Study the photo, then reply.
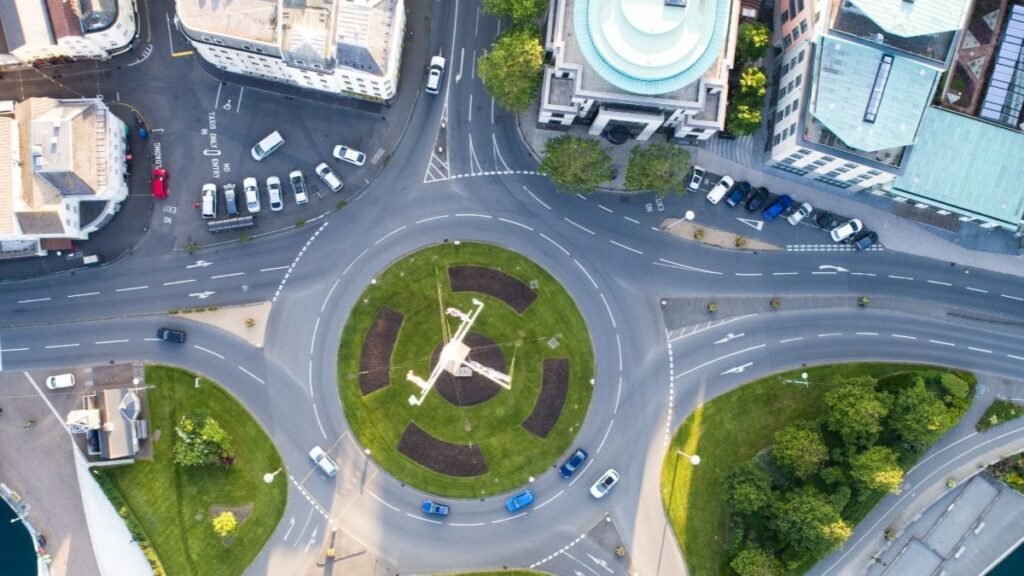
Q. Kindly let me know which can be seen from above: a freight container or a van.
van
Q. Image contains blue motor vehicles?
Yes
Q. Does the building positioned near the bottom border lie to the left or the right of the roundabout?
on the right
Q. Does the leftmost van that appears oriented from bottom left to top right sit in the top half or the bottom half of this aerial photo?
top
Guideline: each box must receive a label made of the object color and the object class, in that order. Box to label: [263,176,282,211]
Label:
white car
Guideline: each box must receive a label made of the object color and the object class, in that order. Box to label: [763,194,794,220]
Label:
blue car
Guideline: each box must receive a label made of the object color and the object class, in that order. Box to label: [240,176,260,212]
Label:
white car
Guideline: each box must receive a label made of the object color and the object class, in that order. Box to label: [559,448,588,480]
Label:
blue car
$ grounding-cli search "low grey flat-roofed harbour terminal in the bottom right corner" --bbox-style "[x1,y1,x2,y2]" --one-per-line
[831,464,1024,576]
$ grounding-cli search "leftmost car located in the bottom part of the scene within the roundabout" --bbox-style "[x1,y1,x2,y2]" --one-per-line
[307,445,339,479]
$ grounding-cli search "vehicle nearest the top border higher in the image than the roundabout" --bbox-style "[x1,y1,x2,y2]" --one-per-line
[425,56,444,91]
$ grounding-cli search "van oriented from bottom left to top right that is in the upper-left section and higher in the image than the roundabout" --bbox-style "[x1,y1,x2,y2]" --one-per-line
[248,128,286,161]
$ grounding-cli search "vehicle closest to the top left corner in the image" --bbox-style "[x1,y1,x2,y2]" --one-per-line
[149,166,167,198]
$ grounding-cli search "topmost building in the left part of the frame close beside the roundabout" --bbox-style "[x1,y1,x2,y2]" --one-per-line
[172,0,411,105]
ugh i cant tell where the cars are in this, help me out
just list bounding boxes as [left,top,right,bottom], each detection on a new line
[263,176,282,211]
[287,170,308,204]
[813,207,840,231]
[240,176,260,212]
[788,201,814,226]
[149,166,167,198]
[503,490,536,513]
[745,184,773,214]
[854,229,881,252]
[706,173,736,204]
[589,468,622,501]
[307,445,339,479]
[763,194,794,220]
[726,178,753,208]
[197,182,216,218]
[153,326,187,344]
[420,501,449,517]
[689,165,707,193]
[219,183,239,214]
[425,56,444,91]
[312,161,344,193]
[559,448,588,480]
[832,217,865,244]
[330,143,366,166]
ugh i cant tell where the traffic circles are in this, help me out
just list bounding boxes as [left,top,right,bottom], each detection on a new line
[273,178,660,567]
